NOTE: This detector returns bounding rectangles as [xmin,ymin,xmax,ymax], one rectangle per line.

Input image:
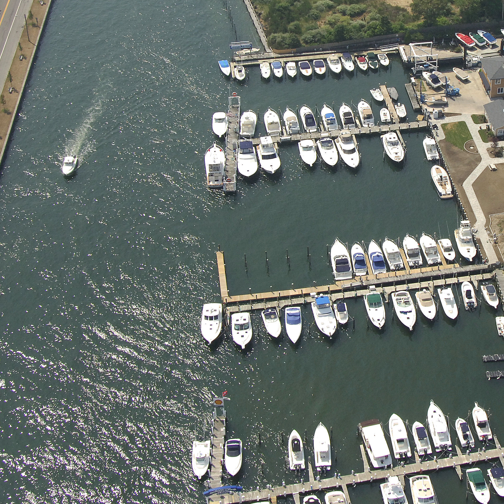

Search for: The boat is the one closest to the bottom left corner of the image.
[192,438,211,480]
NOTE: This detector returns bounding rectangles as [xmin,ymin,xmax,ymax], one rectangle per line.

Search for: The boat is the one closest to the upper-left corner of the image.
[62,154,78,178]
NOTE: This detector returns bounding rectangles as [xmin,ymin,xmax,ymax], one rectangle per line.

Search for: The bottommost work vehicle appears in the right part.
[423,76,461,97]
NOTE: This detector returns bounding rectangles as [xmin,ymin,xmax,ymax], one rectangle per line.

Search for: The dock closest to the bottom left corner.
[205,410,228,504]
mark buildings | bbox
[486,99,504,137]
[476,56,504,97]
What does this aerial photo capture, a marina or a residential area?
marina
